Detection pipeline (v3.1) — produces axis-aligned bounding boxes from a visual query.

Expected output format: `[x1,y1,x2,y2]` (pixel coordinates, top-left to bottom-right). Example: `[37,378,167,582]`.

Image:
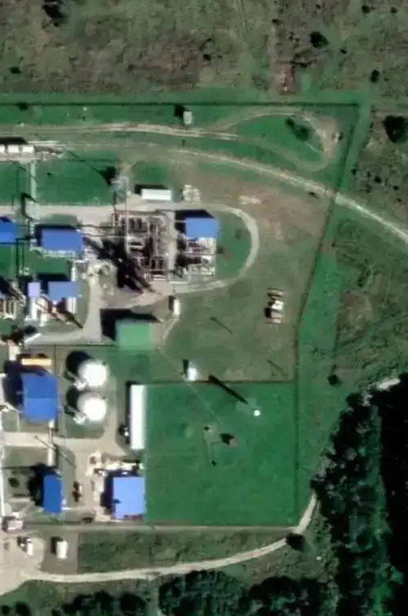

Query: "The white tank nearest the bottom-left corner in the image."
[66,390,107,424]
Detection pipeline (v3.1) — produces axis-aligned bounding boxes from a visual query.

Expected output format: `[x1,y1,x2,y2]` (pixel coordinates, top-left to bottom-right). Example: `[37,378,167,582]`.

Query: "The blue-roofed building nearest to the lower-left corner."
[38,470,63,513]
